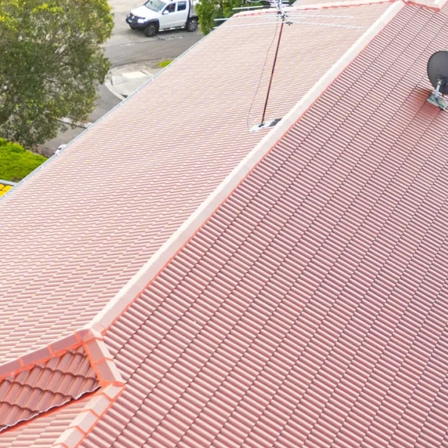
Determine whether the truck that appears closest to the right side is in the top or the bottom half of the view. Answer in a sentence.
You can find the truck that appears closest to the right side in the top half.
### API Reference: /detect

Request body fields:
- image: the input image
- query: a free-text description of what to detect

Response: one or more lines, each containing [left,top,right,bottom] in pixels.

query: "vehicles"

[57,144,66,151]
[126,0,204,37]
